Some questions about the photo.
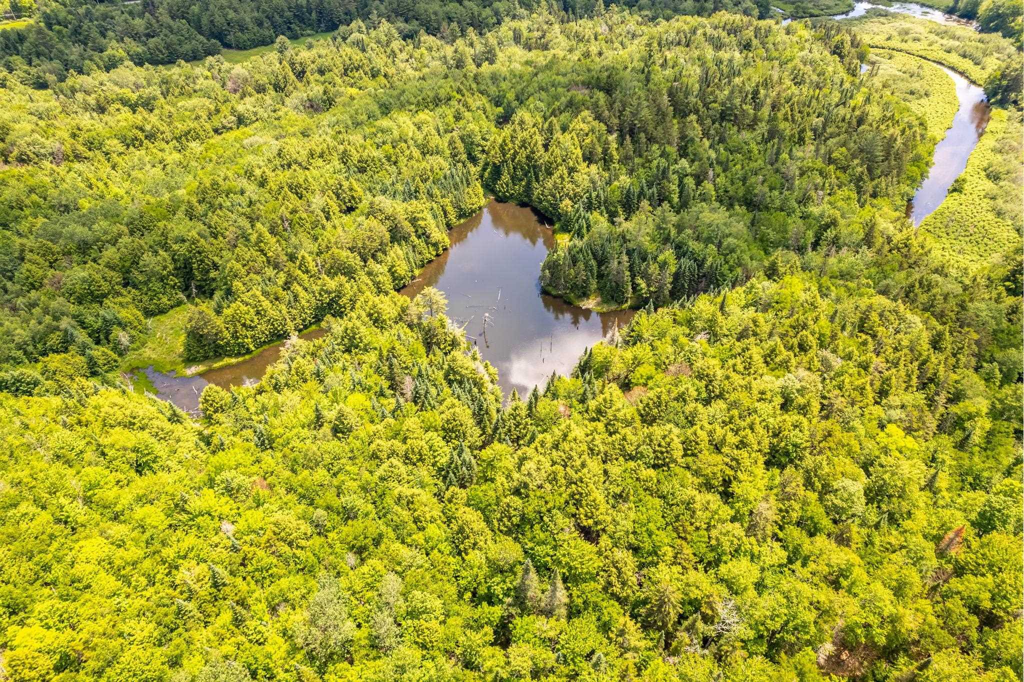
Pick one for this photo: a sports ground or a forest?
forest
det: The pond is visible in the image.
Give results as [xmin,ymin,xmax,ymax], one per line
[133,200,660,433]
